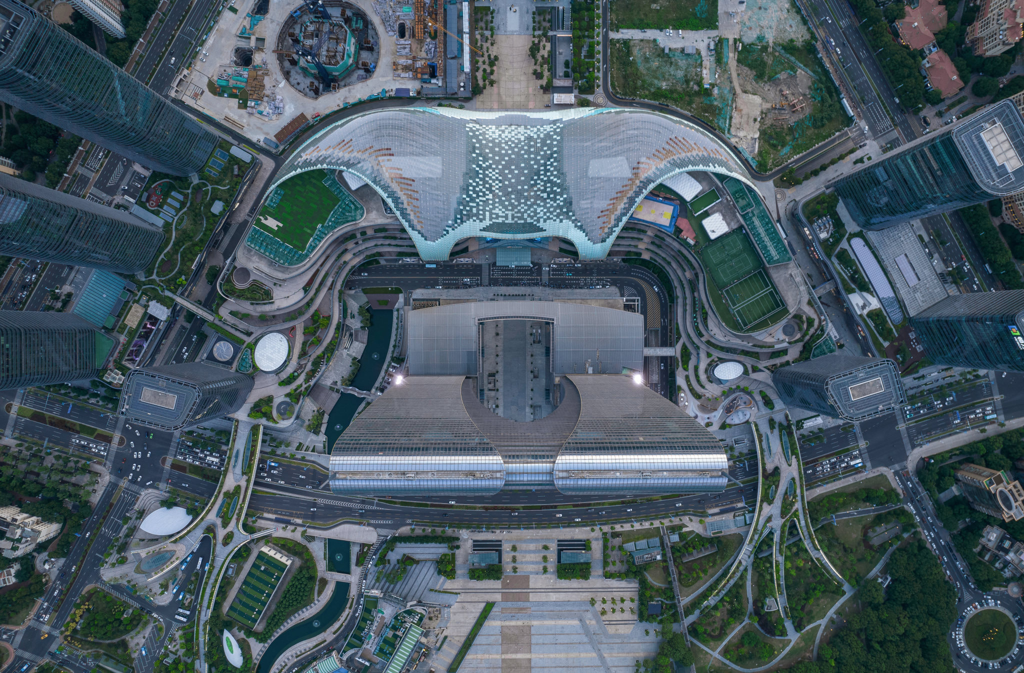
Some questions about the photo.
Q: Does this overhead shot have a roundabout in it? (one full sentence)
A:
Yes, the frame does contain a roundabout.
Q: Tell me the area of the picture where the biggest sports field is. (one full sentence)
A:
You can find the biggest sports field in the bottom left area of the picture.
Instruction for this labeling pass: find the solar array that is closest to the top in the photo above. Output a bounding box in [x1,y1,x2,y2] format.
[159,190,185,223]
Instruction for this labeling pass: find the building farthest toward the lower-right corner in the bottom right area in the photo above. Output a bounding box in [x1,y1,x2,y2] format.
[966,518,1024,573]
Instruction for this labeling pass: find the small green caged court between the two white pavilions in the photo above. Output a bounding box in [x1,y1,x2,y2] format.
[687,187,721,216]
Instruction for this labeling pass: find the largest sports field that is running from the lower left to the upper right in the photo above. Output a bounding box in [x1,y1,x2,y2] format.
[224,545,295,630]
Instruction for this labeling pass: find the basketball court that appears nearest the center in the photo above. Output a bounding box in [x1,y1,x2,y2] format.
[630,196,679,233]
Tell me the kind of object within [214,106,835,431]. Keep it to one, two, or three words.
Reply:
building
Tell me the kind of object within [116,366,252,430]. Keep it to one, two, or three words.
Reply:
building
